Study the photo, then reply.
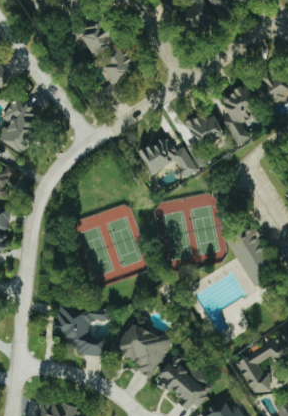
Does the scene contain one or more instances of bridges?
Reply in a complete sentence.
No, the scene contains no bridge.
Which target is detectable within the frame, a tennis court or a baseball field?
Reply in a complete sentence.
The image shows a tennis court.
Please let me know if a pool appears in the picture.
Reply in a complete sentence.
Yes, a pool appears in the view.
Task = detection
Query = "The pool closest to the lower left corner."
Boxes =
[90,324,109,338]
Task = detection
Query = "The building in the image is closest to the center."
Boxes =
[136,145,200,178]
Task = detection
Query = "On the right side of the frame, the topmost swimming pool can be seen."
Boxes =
[274,102,288,116]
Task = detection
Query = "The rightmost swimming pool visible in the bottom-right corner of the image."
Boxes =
[260,395,278,416]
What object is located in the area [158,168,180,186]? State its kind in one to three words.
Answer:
swimming pool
